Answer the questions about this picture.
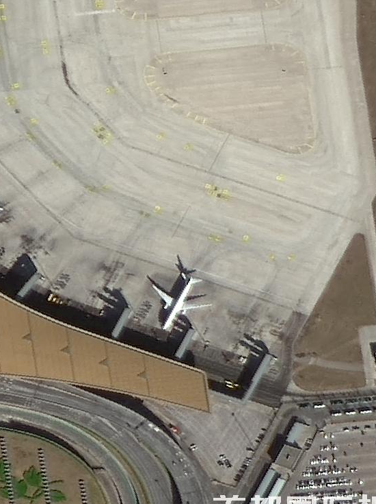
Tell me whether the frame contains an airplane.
Yes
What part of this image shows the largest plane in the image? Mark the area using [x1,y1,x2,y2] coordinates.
[154,268,215,328]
